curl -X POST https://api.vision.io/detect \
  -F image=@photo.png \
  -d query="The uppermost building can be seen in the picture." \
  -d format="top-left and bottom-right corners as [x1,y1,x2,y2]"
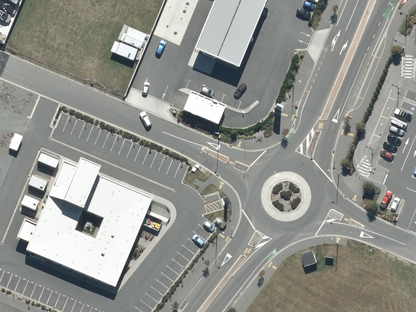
[118,25,149,50]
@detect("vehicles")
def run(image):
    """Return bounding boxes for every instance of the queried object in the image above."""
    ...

[389,126,406,137]
[202,222,216,234]
[234,84,246,98]
[390,118,408,130]
[302,2,316,11]
[140,112,152,129]
[143,82,150,96]
[296,10,312,20]
[381,151,395,160]
[156,40,165,56]
[198,86,216,99]
[394,110,412,121]
[382,142,398,153]
[260,4,270,20]
[380,191,392,209]
[391,198,400,212]
[386,135,402,146]
[192,236,205,248]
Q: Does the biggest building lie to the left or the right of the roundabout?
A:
on its left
